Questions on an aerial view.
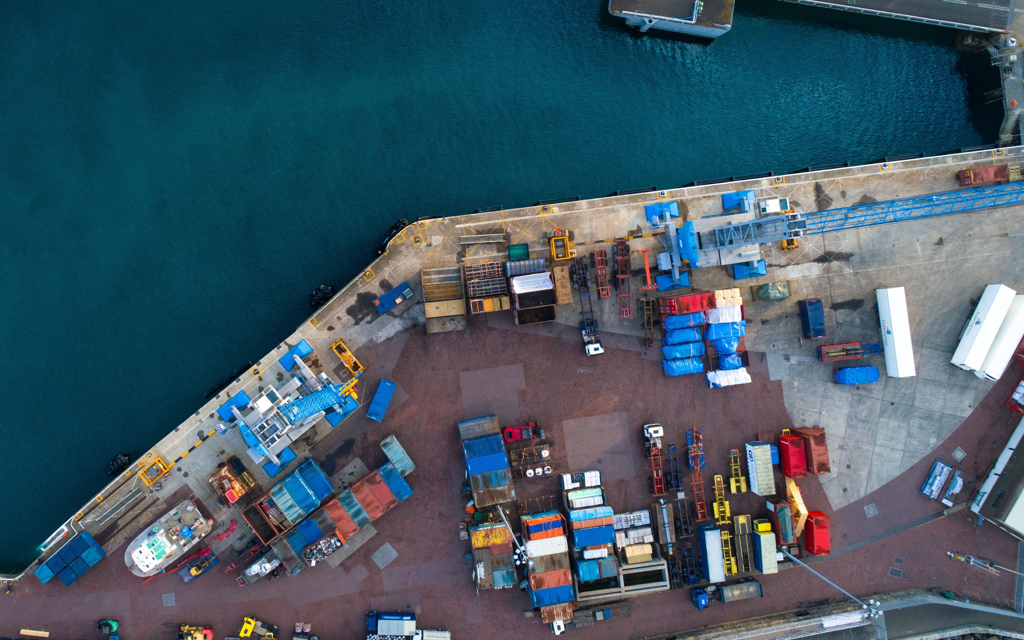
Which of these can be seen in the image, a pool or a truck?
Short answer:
truck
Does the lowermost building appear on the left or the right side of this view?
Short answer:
right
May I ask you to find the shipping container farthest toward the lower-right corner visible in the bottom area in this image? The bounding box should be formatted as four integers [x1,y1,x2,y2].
[804,511,830,556]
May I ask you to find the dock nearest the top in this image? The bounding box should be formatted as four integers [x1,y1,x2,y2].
[607,0,734,41]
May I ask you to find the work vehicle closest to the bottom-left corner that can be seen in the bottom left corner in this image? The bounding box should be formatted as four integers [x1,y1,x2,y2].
[91,614,126,633]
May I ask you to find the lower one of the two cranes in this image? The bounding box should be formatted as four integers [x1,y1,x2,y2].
[218,338,361,474]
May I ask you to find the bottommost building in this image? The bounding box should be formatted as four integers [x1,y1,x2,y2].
[972,418,1024,541]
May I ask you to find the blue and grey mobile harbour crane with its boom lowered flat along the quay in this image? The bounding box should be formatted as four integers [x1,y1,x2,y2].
[644,181,1024,291]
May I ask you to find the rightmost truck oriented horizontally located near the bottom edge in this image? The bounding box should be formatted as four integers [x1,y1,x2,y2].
[685,578,762,609]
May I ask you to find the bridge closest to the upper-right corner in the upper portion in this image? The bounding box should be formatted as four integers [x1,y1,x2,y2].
[741,0,1014,37]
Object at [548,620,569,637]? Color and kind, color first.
white vehicle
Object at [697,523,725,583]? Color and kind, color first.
white trailer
